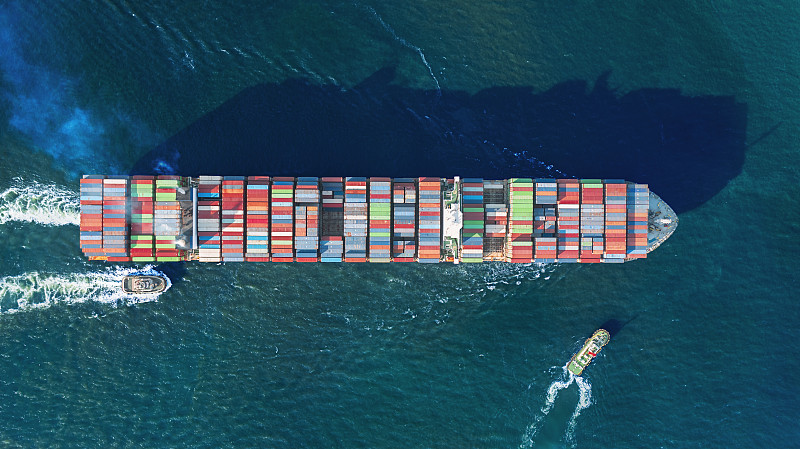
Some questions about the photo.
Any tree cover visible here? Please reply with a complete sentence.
No, tree cover can't be seen anywhere here.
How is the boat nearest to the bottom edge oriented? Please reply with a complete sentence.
The boat nearest to the bottom edge runs diagonally in the image.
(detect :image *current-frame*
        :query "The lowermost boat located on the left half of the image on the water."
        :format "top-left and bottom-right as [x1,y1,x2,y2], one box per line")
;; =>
[123,274,169,296]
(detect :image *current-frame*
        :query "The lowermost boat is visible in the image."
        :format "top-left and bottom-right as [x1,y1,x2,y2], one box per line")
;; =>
[567,328,609,378]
